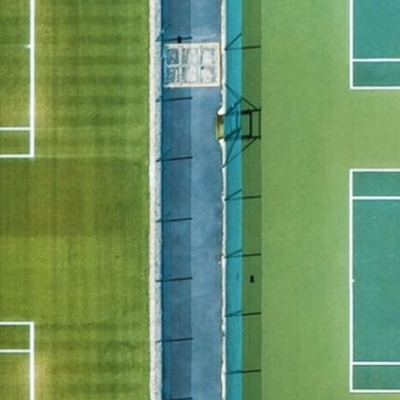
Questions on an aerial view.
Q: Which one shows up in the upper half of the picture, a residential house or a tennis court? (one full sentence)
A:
Visible in the upper half of the picture is a tennis court.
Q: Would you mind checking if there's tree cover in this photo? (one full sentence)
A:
No, there is no tree cover in the image.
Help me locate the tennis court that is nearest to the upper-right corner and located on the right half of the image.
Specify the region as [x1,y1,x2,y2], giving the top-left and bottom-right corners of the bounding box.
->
[349,0,400,89]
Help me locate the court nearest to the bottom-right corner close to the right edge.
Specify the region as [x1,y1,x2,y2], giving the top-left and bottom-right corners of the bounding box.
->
[349,168,400,393]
